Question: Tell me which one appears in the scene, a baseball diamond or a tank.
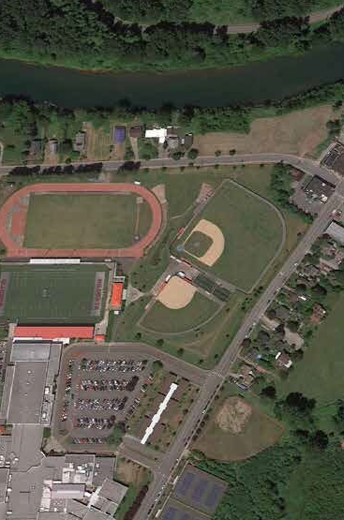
baseball diamond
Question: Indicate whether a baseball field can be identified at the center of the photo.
Yes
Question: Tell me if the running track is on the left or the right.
left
